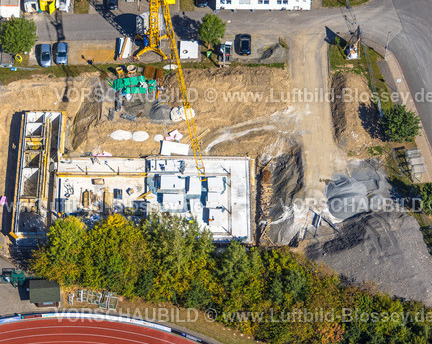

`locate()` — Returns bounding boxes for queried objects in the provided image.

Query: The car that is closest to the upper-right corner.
[239,30,253,55]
